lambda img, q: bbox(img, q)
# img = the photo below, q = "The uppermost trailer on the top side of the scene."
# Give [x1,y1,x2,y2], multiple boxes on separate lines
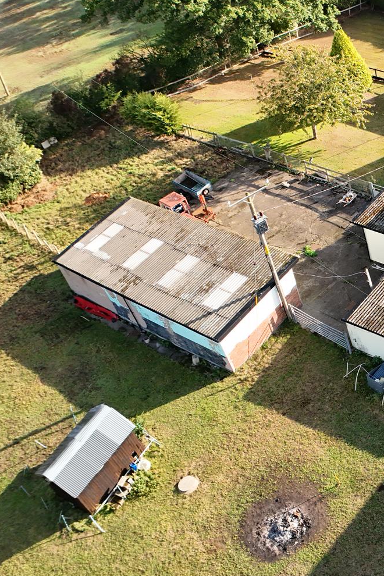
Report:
[170,172,217,204]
